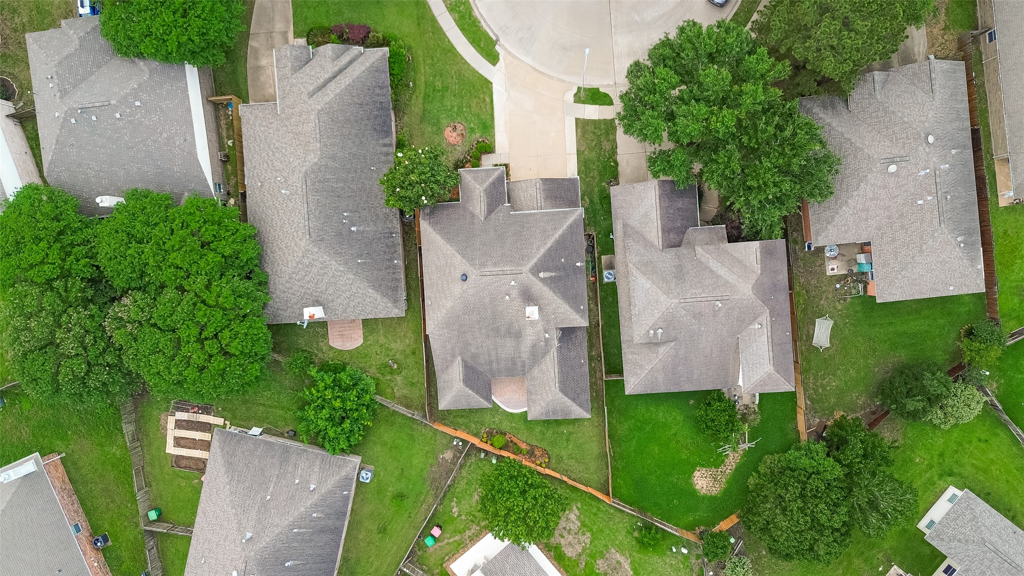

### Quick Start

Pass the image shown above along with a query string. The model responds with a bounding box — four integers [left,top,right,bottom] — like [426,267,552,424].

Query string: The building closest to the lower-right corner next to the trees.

[906,484,1024,576]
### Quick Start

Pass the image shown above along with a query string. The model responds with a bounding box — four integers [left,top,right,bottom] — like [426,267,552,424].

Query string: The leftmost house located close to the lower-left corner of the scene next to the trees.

[0,449,116,576]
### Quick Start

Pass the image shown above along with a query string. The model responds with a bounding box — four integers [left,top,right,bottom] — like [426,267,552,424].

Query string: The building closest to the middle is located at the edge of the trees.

[419,165,592,421]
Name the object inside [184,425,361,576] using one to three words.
house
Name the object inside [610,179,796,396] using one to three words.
house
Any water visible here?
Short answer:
No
